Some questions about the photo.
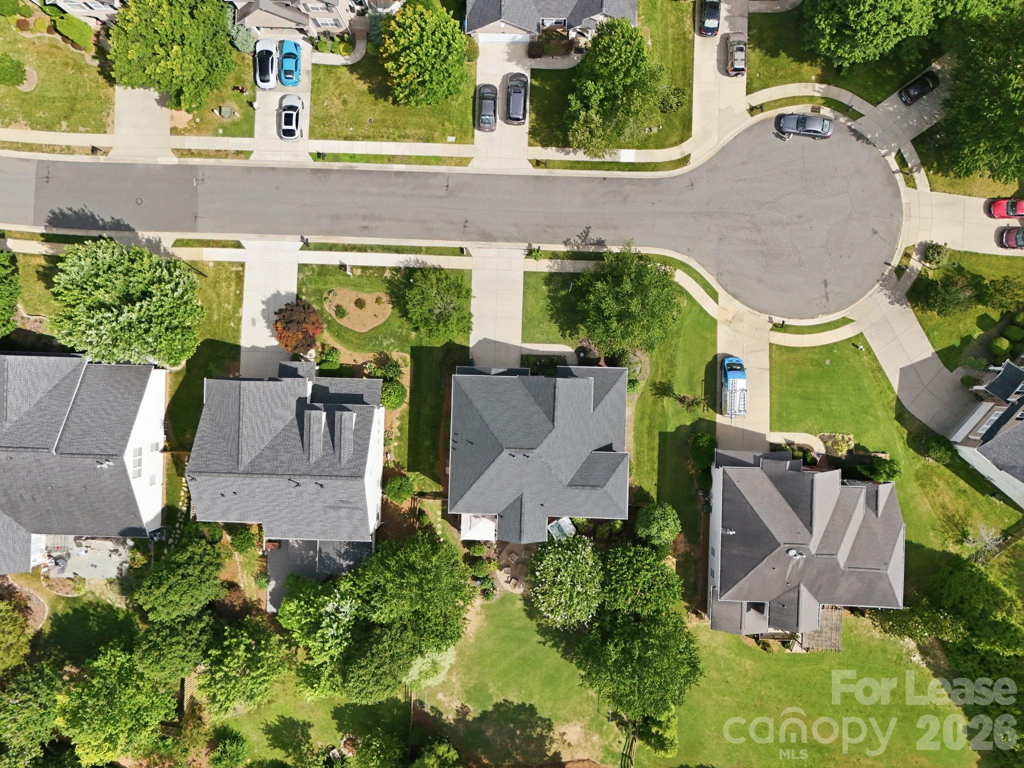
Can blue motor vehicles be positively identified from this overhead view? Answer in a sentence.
Yes, I can see a blue motor vehicle in this picture.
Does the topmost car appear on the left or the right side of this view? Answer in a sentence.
The topmost car sits on the right side.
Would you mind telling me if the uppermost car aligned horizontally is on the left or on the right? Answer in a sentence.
The uppermost car aligned horizontally is on the right side of the image.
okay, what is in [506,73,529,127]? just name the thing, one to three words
car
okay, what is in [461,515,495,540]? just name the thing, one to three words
gazebo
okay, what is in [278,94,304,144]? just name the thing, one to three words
car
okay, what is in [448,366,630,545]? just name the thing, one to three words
house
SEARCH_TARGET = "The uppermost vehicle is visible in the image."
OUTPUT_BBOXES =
[698,0,722,40]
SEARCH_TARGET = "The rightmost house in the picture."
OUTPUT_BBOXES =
[951,344,1024,508]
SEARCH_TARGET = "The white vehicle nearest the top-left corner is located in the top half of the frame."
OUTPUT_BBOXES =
[254,39,280,92]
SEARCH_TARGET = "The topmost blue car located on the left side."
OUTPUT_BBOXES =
[278,40,302,89]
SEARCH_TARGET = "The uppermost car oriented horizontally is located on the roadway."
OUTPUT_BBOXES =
[778,113,832,141]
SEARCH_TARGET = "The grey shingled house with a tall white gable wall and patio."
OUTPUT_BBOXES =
[0,351,162,574]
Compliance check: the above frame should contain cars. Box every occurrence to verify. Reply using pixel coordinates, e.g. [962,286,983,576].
[778,113,832,141]
[997,227,1024,250]
[986,197,1024,220]
[254,39,280,92]
[278,94,304,144]
[725,31,748,76]
[278,40,302,89]
[698,0,722,40]
[506,73,529,127]
[475,84,497,134]
[893,72,939,109]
